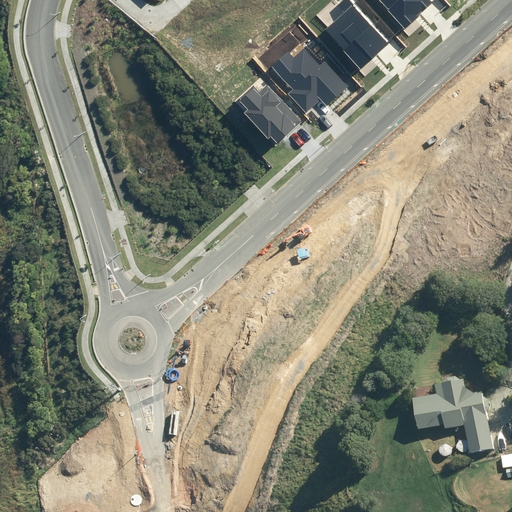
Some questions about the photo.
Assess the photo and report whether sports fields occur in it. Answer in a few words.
No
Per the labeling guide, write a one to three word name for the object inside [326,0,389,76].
house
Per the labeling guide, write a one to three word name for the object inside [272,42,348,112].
house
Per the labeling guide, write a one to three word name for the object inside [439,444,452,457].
umbrella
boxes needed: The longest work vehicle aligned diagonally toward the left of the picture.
[174,338,194,357]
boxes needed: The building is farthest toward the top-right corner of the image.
[378,0,432,36]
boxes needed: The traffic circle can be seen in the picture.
[108,316,157,365]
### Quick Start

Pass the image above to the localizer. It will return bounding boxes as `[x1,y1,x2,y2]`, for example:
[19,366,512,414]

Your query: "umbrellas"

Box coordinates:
[456,441,466,453]
[439,444,452,457]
